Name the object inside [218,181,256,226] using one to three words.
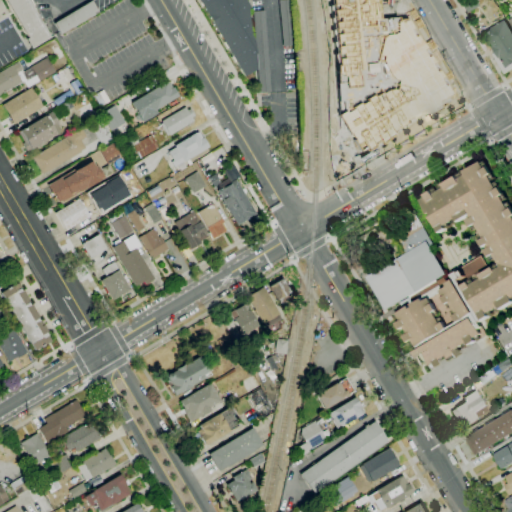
building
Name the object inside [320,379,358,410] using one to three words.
house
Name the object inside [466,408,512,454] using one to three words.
building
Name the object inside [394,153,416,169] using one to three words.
vehicle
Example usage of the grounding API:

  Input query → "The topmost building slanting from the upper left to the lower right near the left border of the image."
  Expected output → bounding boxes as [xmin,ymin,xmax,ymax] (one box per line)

[6,0,54,50]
